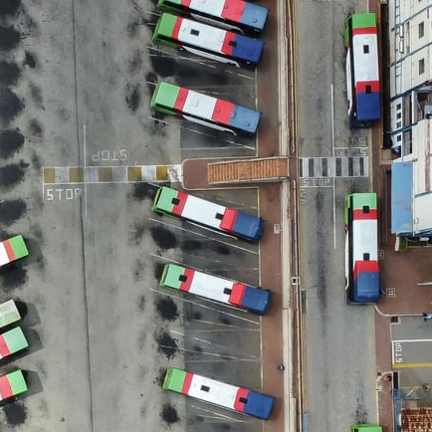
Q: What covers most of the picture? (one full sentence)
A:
What you mostly see from above here is paved ground.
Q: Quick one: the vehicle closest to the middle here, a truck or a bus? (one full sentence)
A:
I'd identify the vehicle closest to the middle as a bus.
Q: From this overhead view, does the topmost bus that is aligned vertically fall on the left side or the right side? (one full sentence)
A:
The topmost bus that is aligned vertically is on the right side of the image.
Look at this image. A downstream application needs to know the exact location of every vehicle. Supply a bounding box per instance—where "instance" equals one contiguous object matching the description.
[153,264,271,316]
[146,83,262,139]
[0,369,28,400]
[340,191,378,305]
[156,368,273,421]
[147,14,264,70]
[340,12,379,128]
[0,300,21,327]
[151,0,269,37]
[147,187,264,244]
[0,327,29,358]
[0,235,29,267]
